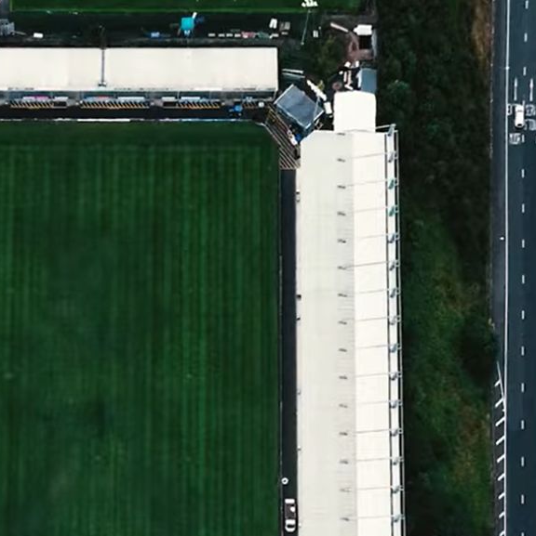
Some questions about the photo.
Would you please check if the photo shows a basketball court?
No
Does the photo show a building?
Yes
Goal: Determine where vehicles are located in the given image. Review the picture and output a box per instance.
[353,25,374,34]
[513,101,524,127]
[284,500,295,532]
